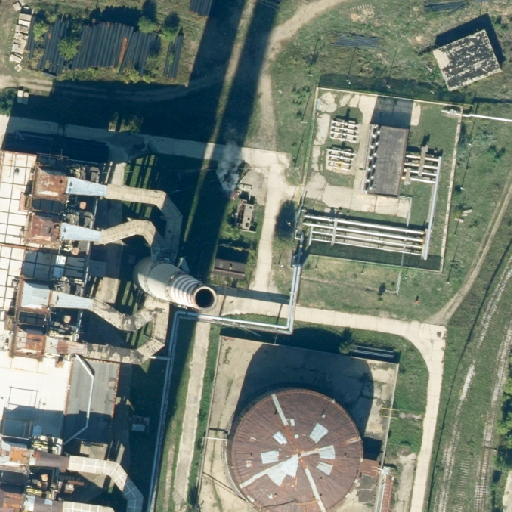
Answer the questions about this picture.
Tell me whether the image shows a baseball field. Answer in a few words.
No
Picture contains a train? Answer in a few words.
No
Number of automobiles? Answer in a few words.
zero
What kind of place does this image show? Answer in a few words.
industrial area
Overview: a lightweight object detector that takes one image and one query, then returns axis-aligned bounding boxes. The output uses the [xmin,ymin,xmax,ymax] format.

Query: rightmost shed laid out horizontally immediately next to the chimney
[213,258,247,279]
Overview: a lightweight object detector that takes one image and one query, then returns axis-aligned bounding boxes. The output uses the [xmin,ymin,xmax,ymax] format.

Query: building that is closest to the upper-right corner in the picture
[433,29,502,90]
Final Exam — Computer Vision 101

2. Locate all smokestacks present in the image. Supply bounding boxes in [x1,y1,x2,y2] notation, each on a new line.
[132,256,217,310]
